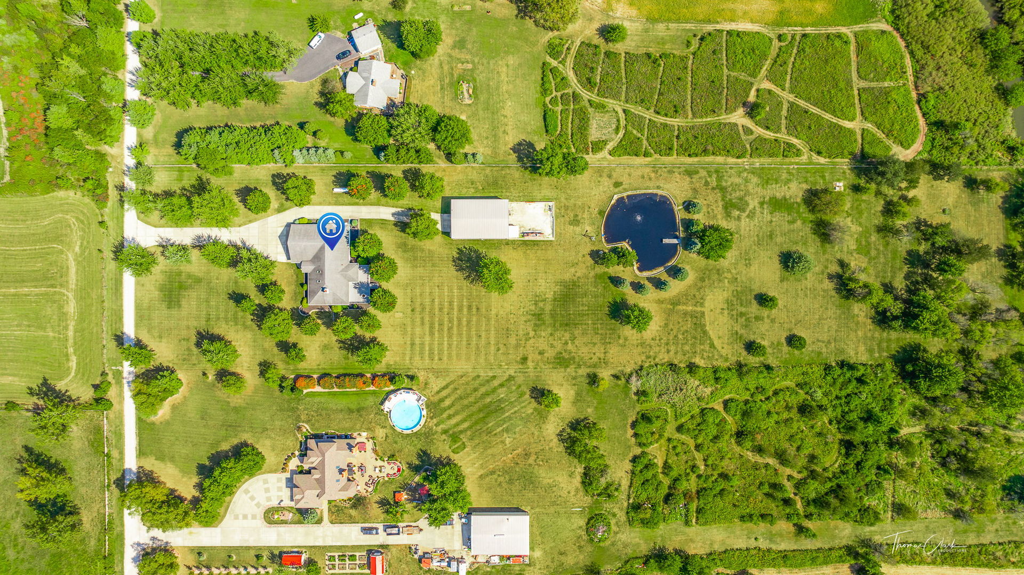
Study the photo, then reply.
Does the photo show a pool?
Yes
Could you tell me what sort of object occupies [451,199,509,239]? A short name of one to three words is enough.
barn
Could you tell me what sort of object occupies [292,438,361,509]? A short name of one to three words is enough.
house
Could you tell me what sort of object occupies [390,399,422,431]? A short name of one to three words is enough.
swimming pool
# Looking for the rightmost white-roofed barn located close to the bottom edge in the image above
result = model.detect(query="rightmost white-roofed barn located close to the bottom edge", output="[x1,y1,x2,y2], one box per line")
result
[471,512,529,555]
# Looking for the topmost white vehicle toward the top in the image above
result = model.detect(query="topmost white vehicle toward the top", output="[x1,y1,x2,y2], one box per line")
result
[309,32,324,48]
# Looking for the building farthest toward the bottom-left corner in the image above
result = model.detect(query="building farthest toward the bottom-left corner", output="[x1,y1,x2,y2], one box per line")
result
[281,549,306,565]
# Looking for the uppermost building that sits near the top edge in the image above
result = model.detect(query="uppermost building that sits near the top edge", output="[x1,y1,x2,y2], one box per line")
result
[351,23,382,55]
